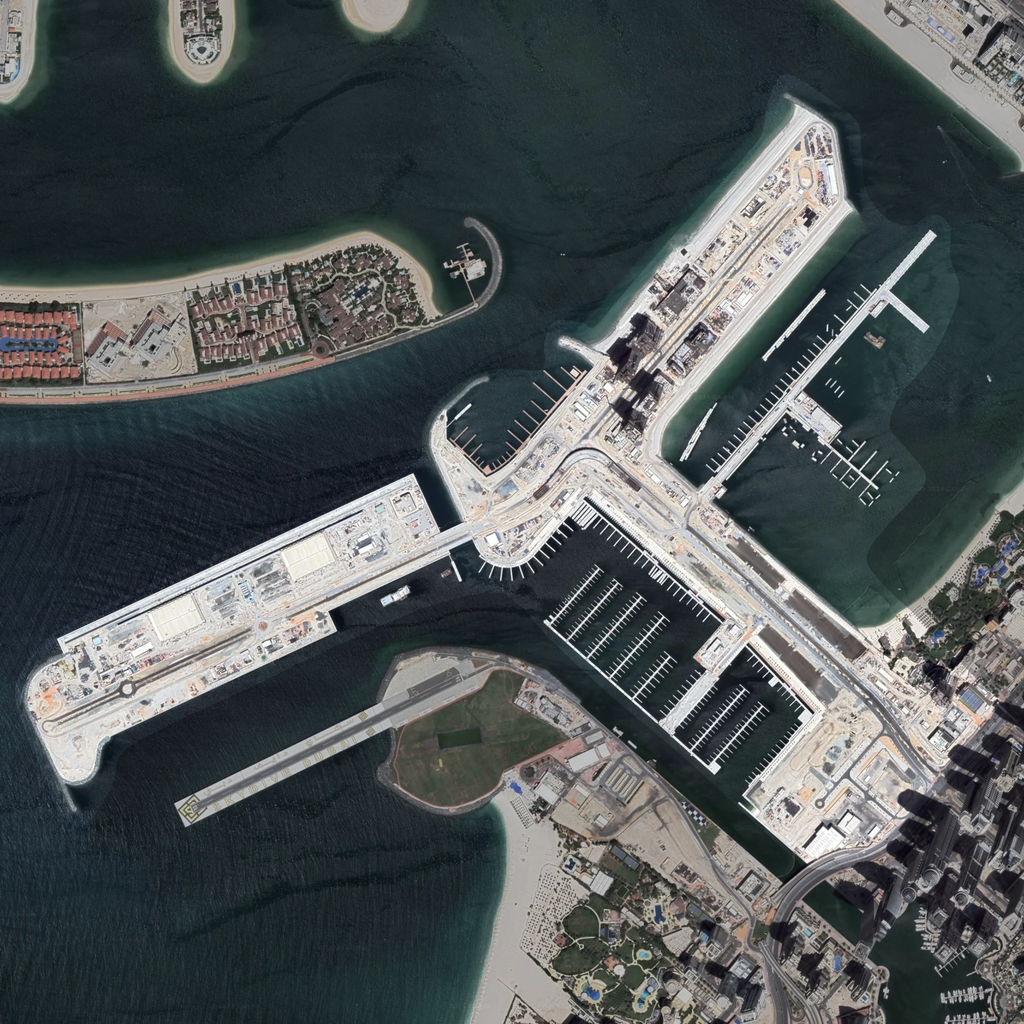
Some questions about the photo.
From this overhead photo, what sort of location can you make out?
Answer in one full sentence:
The area seen from above is a port.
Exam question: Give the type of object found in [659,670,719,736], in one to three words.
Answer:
pier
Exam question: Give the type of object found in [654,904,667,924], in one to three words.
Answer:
swimming pool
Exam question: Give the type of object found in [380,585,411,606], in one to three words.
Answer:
ship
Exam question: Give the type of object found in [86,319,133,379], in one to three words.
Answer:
building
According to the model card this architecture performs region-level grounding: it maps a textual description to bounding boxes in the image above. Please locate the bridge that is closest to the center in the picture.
[433,516,475,551]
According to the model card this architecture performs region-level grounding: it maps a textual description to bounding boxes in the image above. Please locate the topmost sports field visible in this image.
[438,727,482,749]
